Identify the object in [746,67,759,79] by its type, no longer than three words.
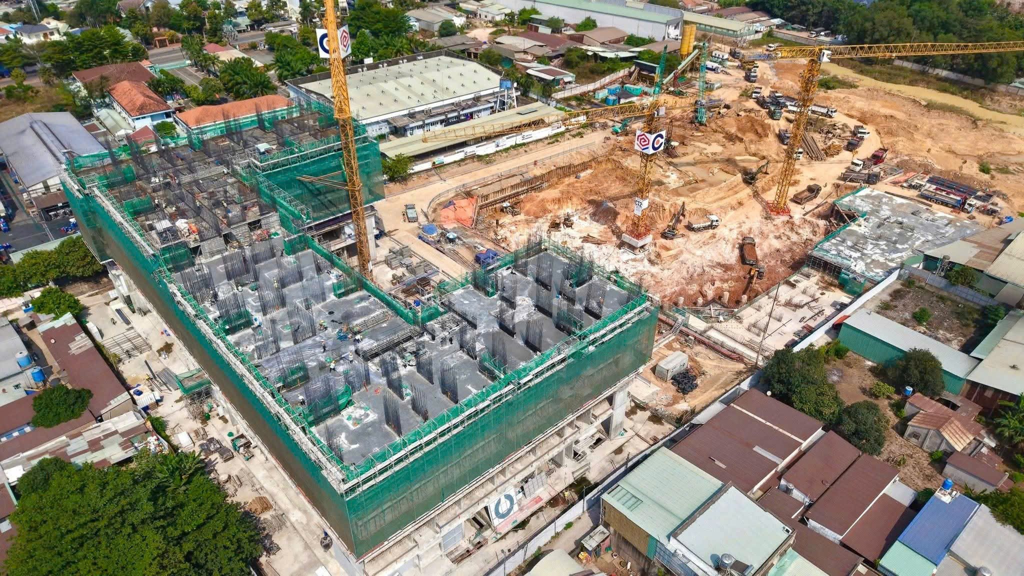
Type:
vehicle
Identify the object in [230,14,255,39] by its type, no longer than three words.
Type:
building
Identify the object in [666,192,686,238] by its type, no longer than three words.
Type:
work vehicle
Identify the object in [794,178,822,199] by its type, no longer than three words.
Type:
truck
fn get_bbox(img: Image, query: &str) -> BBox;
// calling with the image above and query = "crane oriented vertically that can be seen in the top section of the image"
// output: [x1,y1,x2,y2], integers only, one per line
[303,0,377,277]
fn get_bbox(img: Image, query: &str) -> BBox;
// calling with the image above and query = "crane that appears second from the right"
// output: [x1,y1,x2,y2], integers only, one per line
[421,97,728,251]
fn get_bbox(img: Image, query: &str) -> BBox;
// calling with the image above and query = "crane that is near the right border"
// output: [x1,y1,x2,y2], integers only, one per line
[747,35,1024,217]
